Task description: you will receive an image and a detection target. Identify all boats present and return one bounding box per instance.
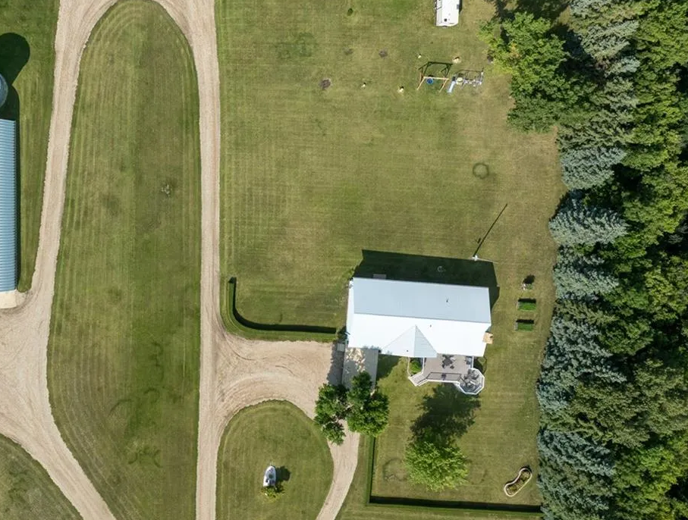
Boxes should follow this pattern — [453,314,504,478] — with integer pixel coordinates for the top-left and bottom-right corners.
[263,462,276,487]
